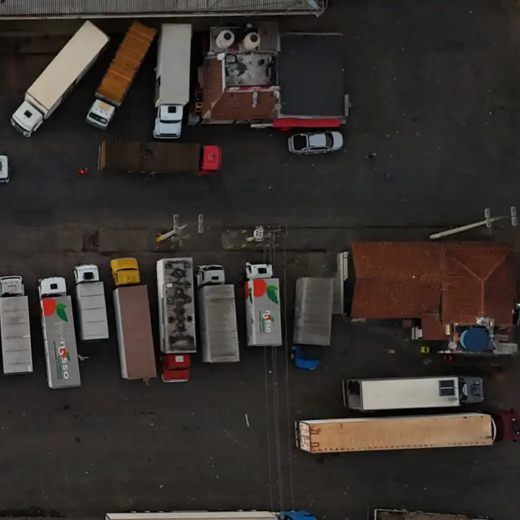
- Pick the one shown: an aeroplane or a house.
house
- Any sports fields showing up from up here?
No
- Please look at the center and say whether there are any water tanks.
No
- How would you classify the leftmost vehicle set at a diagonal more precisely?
truck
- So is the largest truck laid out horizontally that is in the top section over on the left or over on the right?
left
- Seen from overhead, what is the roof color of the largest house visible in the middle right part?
red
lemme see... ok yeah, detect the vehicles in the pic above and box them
[106,256,156,379]
[93,141,220,177]
[240,260,281,347]
[193,266,240,364]
[357,507,495,520]
[34,274,80,389]
[70,262,110,342]
[83,24,157,131]
[7,24,109,142]
[286,129,343,156]
[287,278,331,371]
[102,508,317,520]
[291,408,520,454]
[154,258,196,383]
[151,24,191,143]
[339,375,483,410]
[0,277,33,375]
